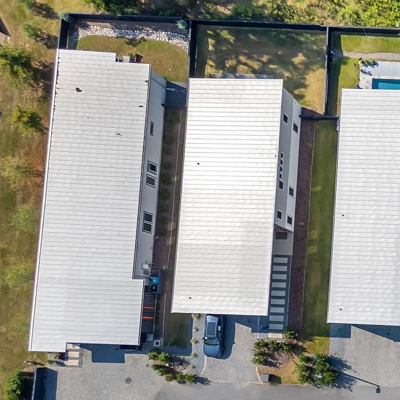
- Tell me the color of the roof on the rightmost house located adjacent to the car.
white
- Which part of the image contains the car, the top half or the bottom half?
bottom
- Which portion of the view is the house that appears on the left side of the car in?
left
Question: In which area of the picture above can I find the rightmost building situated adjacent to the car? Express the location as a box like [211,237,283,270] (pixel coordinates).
[169,78,301,316]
